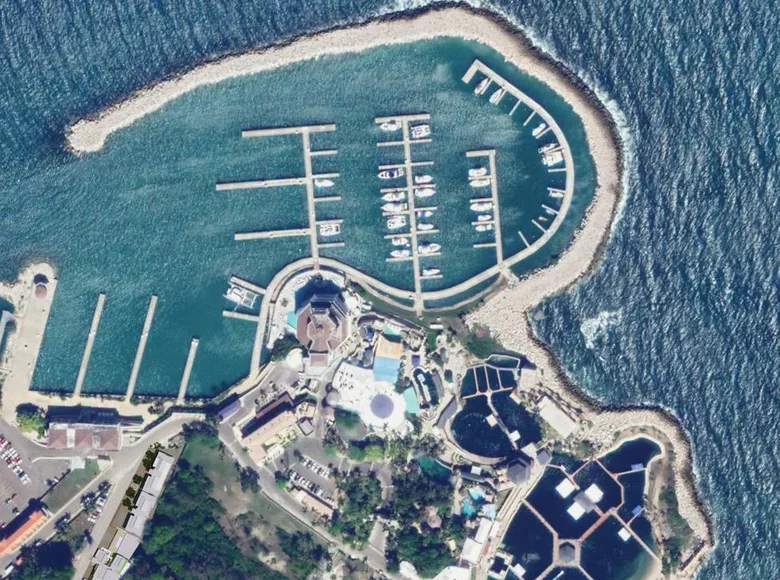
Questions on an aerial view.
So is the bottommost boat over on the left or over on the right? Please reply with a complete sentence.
The bottommost boat appears in the left half of the scene.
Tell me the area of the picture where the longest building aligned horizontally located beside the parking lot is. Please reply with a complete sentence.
The longest building aligned horizontally located beside the parking lot sits in the bottom left section of the image.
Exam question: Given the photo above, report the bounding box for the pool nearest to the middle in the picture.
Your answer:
[379,325,404,338]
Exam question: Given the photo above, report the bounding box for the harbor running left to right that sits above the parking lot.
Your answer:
[28,258,517,405]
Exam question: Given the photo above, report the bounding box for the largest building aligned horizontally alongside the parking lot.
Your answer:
[48,423,120,451]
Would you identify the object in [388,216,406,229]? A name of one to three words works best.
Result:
boat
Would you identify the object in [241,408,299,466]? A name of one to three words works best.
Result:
building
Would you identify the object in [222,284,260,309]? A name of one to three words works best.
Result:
boat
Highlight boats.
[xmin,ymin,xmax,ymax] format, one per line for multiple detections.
[475,225,486,231]
[388,216,406,229]
[476,77,490,93]
[417,223,433,230]
[491,87,504,104]
[478,215,491,221]
[470,179,490,187]
[411,125,430,138]
[382,203,407,211]
[468,168,487,176]
[380,121,401,130]
[382,193,404,201]
[542,150,564,167]
[470,203,492,211]
[417,244,440,252]
[539,143,558,153]
[417,211,433,217]
[314,179,333,187]
[548,191,564,197]
[415,176,433,184]
[391,251,410,258]
[320,223,340,236]
[378,169,404,178]
[423,269,440,276]
[414,188,435,197]
[392,238,408,245]
[532,122,547,136]
[222,284,260,309]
